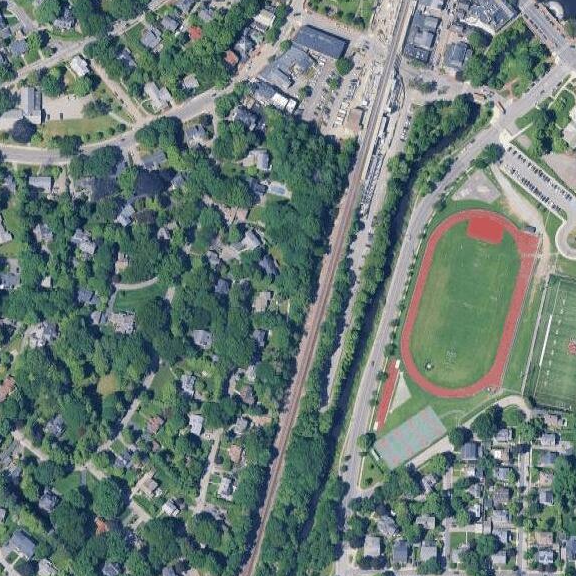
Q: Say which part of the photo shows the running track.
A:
right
